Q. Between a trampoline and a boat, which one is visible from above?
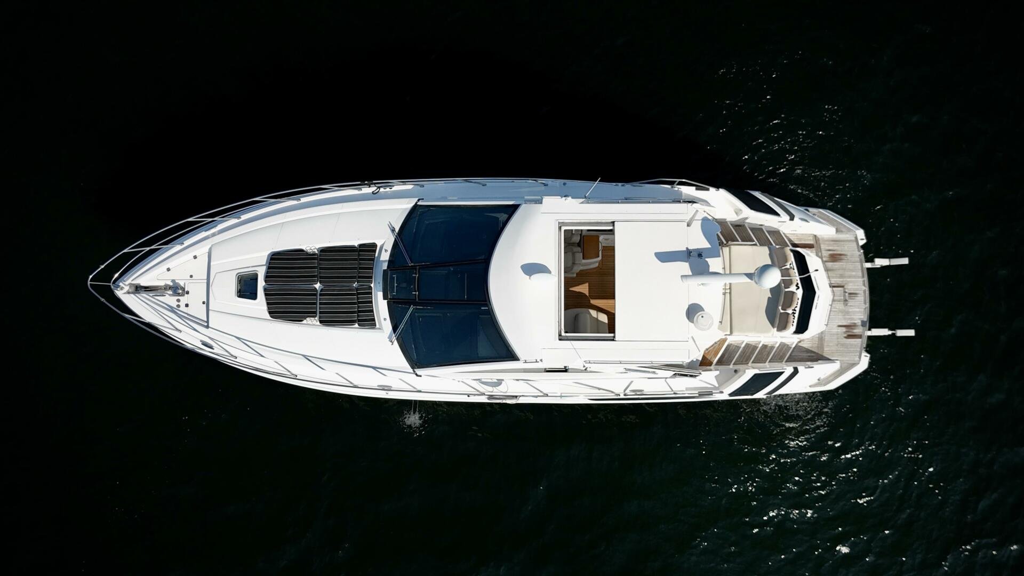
boat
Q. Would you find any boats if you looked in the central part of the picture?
Yes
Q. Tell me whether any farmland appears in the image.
No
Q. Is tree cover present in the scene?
No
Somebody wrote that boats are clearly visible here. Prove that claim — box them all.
[87,177,914,404]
